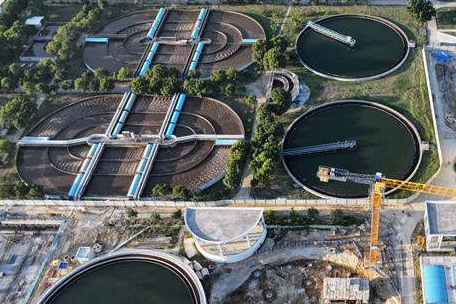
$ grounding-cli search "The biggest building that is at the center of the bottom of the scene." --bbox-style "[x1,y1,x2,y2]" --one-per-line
[183,206,272,261]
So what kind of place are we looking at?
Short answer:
industrial area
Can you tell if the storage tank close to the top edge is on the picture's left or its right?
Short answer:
right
